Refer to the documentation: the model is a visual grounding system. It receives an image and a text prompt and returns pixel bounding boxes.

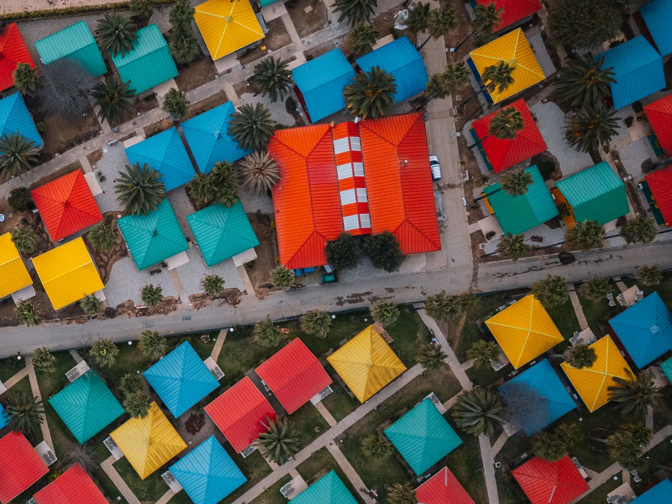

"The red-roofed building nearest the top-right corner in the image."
[633,93,672,158]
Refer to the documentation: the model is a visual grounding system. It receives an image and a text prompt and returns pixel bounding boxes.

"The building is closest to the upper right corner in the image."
[628,0,672,56]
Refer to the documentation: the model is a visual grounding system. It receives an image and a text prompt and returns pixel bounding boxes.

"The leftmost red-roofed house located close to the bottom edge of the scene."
[0,430,50,504]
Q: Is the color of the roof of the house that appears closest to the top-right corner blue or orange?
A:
blue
